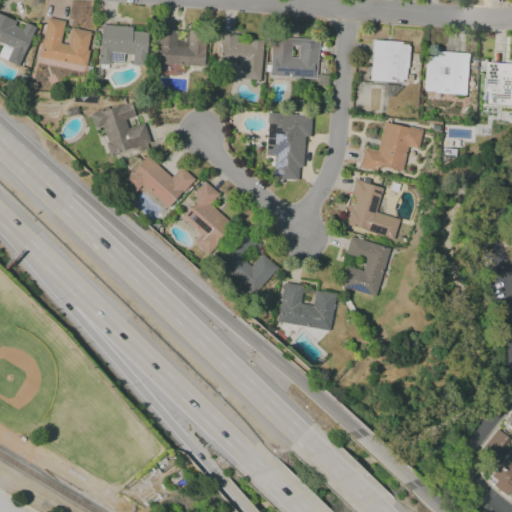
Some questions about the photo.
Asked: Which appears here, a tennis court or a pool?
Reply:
pool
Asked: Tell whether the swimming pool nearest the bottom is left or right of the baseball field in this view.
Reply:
to the right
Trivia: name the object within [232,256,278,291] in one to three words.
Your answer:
house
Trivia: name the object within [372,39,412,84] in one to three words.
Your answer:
house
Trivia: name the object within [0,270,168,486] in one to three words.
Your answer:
baseball field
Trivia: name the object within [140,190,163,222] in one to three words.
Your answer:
swimming pool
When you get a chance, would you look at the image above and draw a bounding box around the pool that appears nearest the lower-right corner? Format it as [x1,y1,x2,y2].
[296,332,323,364]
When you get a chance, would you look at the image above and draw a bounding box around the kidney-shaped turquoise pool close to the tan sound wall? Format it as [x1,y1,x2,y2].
[172,226,192,246]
